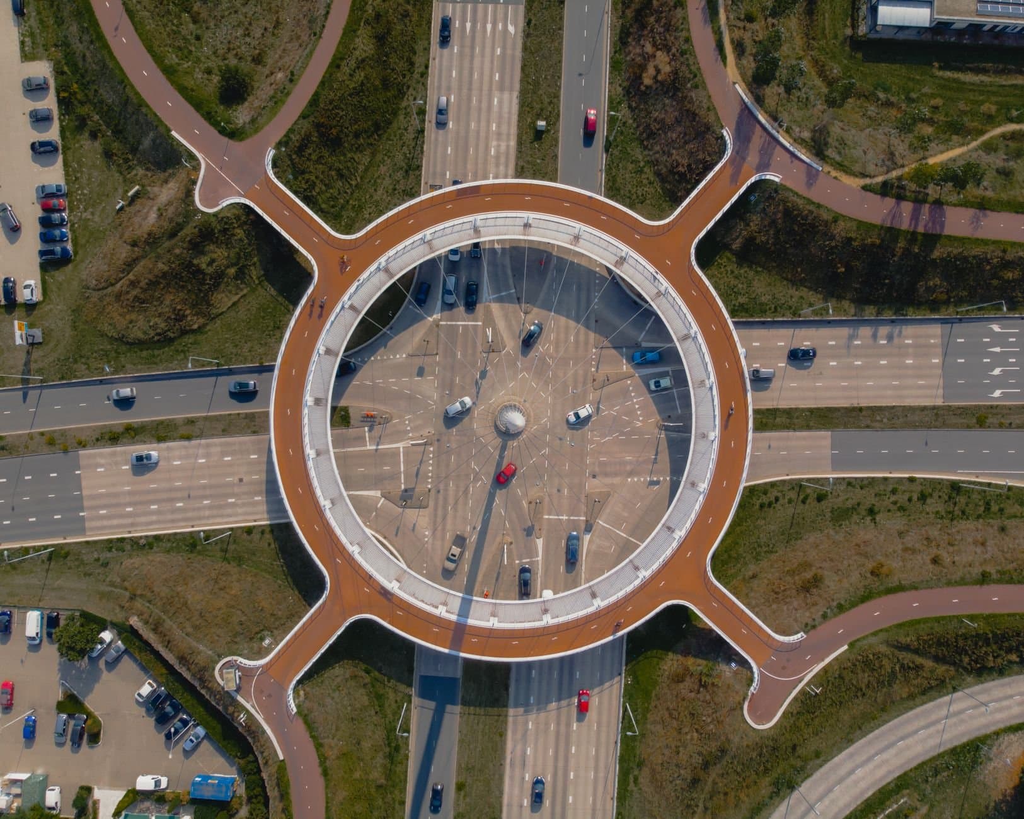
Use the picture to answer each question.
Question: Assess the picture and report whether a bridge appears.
Yes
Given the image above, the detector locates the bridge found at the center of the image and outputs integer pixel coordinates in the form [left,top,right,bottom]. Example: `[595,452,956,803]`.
[224,128,805,715]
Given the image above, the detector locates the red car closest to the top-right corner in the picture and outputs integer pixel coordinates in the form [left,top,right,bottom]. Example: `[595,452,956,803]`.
[583,105,598,135]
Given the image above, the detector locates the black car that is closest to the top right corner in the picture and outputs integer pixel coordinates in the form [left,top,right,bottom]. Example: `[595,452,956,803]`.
[788,346,818,360]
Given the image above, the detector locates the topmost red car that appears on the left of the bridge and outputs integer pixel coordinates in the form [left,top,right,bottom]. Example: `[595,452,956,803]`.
[37,196,66,211]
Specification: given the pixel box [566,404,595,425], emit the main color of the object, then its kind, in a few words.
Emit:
white car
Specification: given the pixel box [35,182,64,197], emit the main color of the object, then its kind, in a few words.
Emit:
blue car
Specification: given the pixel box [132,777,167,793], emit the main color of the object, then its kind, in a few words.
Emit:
white vehicle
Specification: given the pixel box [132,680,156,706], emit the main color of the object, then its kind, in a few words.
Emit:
white car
